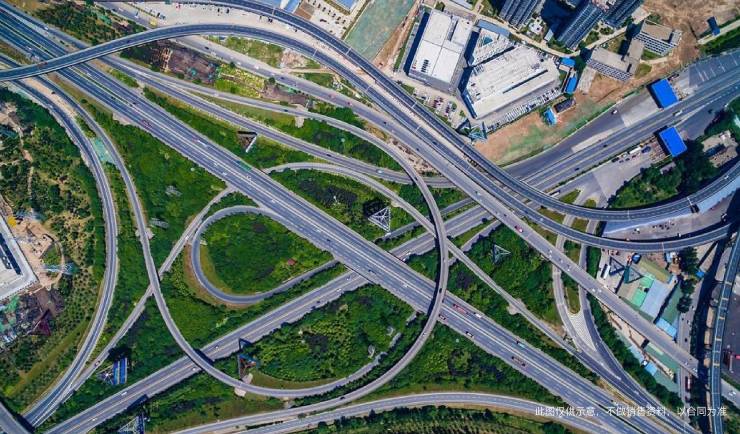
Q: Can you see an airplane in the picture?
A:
No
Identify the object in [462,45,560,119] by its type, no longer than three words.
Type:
building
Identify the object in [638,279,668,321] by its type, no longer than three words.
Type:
shed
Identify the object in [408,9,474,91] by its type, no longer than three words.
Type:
building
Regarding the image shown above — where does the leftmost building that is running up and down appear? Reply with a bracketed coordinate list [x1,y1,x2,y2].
[0,200,47,303]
